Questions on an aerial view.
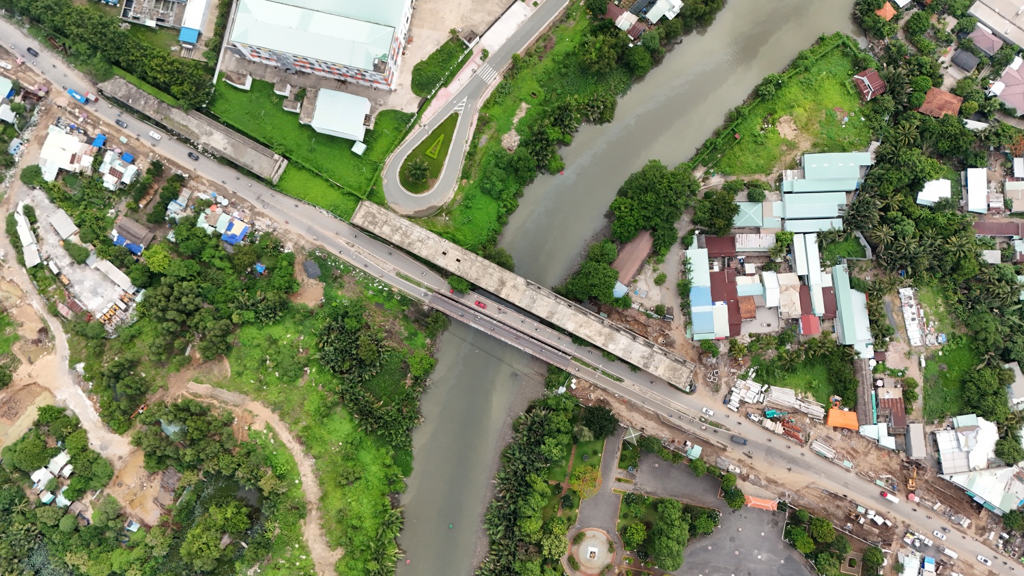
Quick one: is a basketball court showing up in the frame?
No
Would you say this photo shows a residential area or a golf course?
residential area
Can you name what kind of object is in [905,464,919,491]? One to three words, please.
work vehicle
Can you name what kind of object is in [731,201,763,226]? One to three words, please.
house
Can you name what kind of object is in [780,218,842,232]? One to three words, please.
building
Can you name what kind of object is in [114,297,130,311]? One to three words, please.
vehicle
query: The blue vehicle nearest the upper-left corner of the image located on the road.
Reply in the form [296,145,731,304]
[66,87,91,104]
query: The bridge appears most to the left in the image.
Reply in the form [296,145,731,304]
[97,75,290,185]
